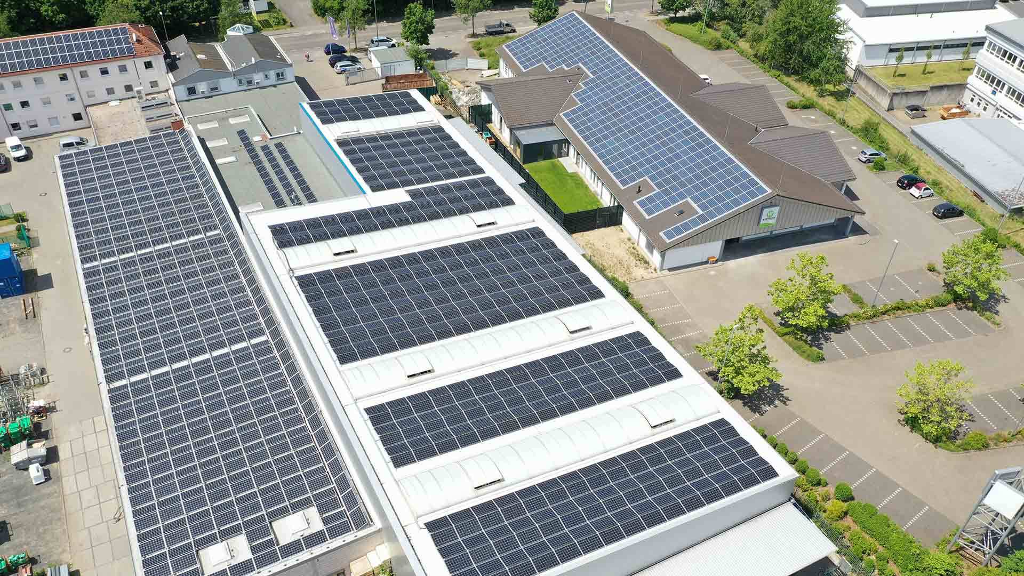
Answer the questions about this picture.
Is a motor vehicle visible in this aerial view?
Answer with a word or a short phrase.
Yes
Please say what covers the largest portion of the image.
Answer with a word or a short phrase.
buildings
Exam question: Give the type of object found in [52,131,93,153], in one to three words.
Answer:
vehicle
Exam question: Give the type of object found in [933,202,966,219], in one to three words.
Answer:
car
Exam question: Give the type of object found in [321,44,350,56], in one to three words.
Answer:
vehicle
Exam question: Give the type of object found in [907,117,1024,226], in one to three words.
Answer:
building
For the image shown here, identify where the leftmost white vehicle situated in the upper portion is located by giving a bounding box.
[3,134,27,160]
